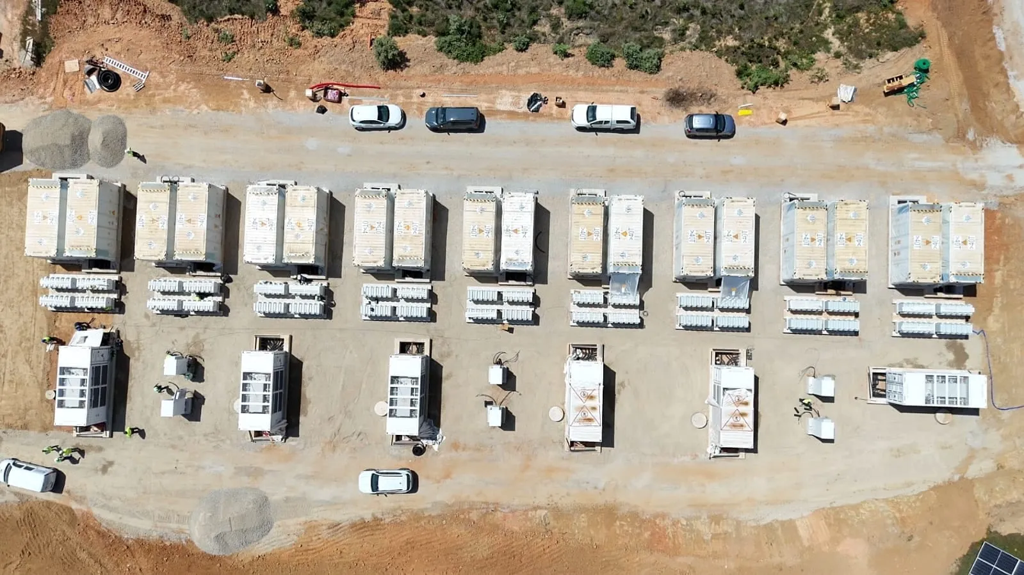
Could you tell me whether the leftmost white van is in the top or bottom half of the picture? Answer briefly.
bottom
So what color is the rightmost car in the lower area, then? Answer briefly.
white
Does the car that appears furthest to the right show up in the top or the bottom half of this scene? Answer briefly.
top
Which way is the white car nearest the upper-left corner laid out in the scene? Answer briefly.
from side to side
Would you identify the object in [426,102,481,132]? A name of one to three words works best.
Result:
car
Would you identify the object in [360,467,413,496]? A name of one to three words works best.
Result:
car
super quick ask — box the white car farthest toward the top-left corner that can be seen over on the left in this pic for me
[350,102,404,130]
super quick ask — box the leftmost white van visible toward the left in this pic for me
[0,458,61,494]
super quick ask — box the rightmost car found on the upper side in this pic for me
[683,110,734,139]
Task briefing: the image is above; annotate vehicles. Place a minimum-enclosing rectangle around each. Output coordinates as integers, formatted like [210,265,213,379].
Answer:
[426,102,481,132]
[0,458,61,494]
[571,100,637,132]
[350,102,404,130]
[360,467,413,496]
[683,110,734,139]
